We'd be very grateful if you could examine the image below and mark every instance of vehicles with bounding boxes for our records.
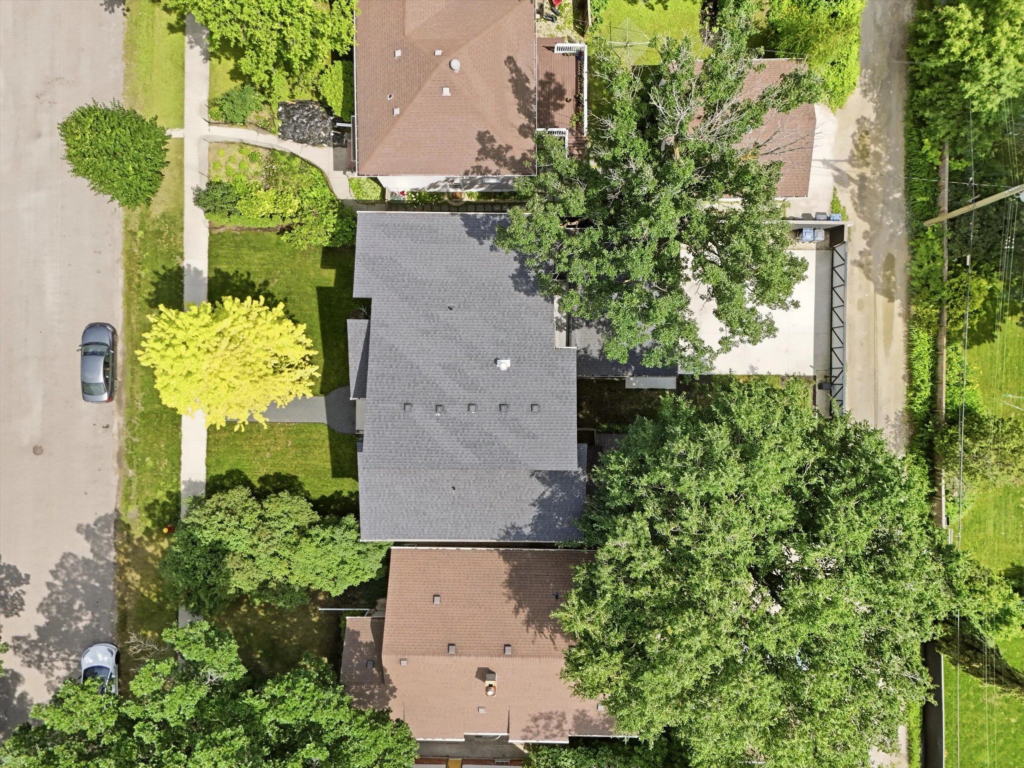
[76,647,121,712]
[76,323,120,402]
